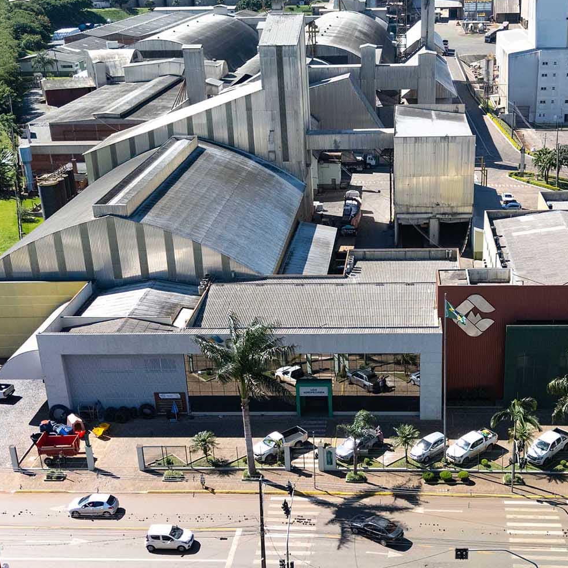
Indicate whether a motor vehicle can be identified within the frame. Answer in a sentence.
Yes, this view includes a motor vehicle.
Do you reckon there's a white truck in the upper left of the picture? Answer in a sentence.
No, there's no white truck to be seen in the upper left of the picture.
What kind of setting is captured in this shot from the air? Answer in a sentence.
This image shows an industrial area.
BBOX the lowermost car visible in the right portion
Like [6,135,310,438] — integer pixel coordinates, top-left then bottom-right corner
[346,515,409,547]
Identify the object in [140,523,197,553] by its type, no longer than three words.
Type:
car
